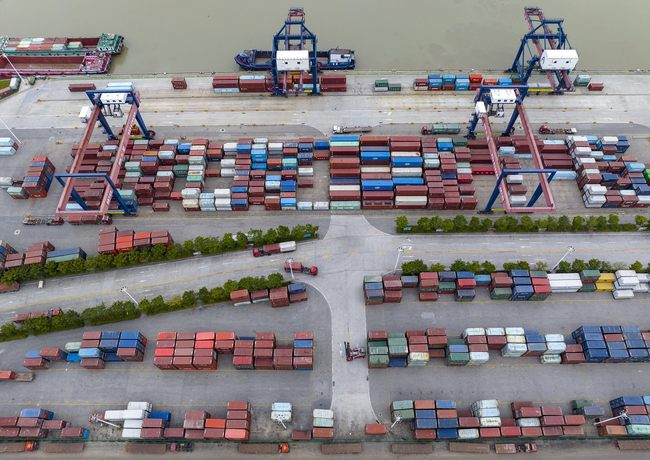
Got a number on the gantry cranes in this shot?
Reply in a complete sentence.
In total, there are 4 gantry cranes in the scene.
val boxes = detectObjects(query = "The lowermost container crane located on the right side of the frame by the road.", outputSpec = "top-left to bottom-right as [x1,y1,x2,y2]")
[464,87,556,210]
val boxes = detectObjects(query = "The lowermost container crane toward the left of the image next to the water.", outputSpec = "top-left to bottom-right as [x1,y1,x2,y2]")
[54,91,158,214]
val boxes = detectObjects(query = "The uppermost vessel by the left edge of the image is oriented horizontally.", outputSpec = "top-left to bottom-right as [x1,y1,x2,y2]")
[0,32,123,56]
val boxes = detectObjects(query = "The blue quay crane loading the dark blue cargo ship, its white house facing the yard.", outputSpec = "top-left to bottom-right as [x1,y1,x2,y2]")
[267,6,321,95]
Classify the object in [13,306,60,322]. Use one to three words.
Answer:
vehicle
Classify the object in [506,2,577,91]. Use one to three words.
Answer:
container crane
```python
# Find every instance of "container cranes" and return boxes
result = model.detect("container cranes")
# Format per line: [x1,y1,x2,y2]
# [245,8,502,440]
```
[506,2,577,91]
[267,6,321,95]
[464,87,556,210]
[54,91,158,214]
